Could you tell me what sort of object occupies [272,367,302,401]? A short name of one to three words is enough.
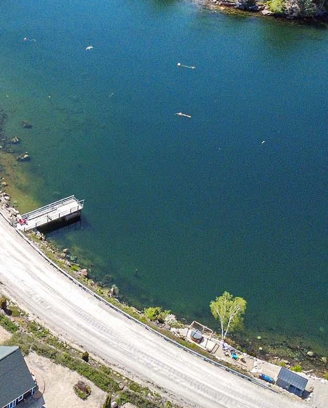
shed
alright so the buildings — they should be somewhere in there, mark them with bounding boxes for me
[0,341,37,408]
[272,367,302,401]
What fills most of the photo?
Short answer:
water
